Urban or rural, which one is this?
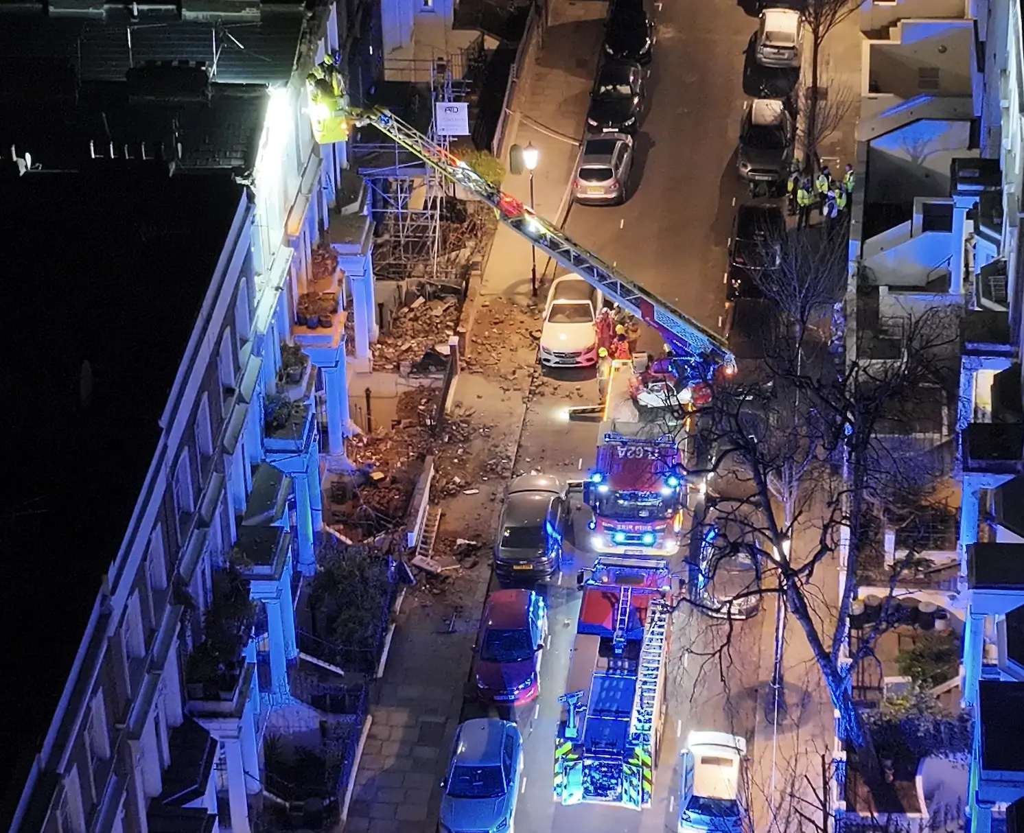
urban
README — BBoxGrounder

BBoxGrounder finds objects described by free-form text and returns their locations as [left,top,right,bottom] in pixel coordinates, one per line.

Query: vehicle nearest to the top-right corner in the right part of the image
[755,0,809,63]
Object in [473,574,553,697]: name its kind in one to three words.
car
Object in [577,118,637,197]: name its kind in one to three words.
car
